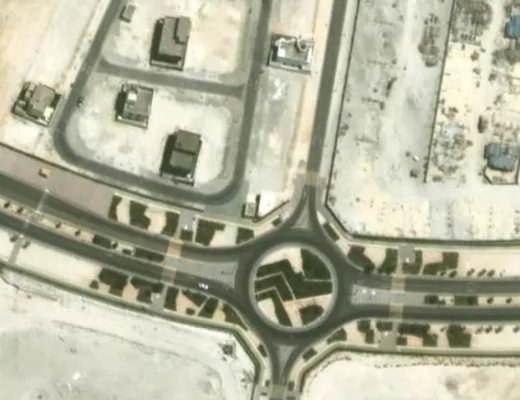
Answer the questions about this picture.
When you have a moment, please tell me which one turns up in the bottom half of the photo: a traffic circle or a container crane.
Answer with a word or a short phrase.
traffic circle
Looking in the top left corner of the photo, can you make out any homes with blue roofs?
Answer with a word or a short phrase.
No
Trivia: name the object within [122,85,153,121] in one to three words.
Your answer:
house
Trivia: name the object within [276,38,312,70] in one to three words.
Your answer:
house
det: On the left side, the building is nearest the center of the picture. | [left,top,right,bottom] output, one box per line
[169,129,201,176]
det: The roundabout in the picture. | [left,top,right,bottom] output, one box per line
[210,186,390,384]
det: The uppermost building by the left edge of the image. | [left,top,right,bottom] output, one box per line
[19,83,55,117]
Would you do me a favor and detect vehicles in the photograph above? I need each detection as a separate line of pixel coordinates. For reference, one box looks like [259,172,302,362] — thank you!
[199,283,209,289]
[77,97,84,107]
